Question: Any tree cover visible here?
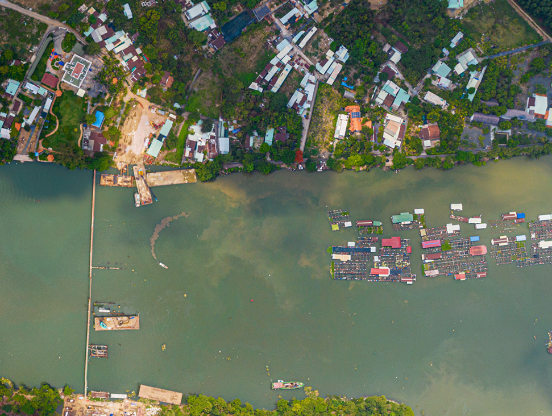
Yes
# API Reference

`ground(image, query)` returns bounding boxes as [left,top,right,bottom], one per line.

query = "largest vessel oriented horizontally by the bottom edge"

[139,385,182,404]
